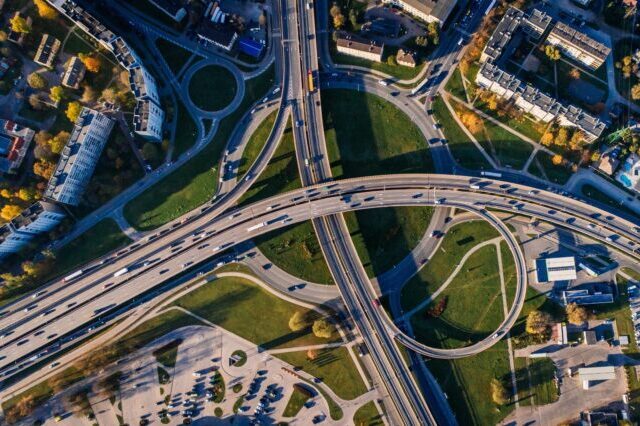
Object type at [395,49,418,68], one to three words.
house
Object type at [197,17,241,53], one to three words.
building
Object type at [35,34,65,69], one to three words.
house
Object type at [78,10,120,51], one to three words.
building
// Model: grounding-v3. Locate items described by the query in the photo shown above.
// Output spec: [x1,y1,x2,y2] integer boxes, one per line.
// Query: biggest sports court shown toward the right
[568,78,606,105]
